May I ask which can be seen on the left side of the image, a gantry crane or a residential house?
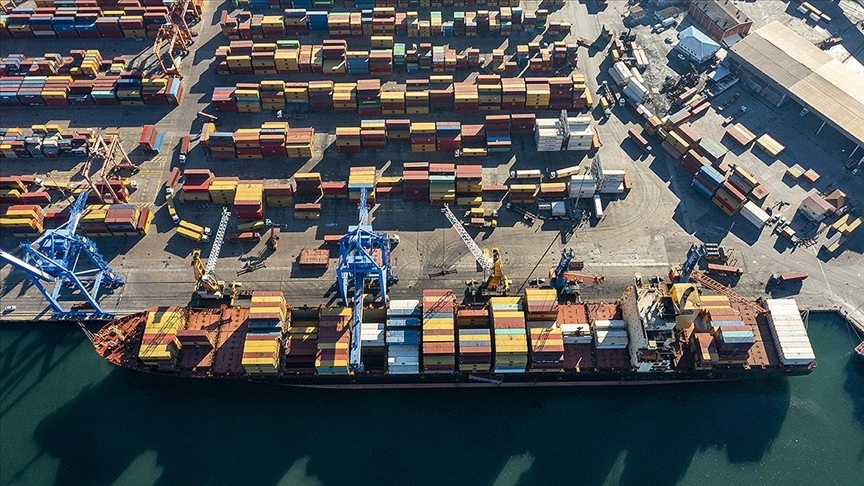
gantry crane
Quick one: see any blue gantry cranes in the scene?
Yes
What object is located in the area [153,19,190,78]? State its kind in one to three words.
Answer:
container crane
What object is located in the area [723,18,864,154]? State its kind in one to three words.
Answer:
warehouse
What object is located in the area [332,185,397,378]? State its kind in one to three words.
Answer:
container crane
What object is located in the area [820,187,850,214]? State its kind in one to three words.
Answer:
house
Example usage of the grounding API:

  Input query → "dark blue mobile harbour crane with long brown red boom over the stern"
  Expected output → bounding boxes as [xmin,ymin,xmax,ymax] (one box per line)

[646,237,778,321]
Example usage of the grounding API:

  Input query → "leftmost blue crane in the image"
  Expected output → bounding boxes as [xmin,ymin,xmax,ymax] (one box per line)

[0,187,121,313]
